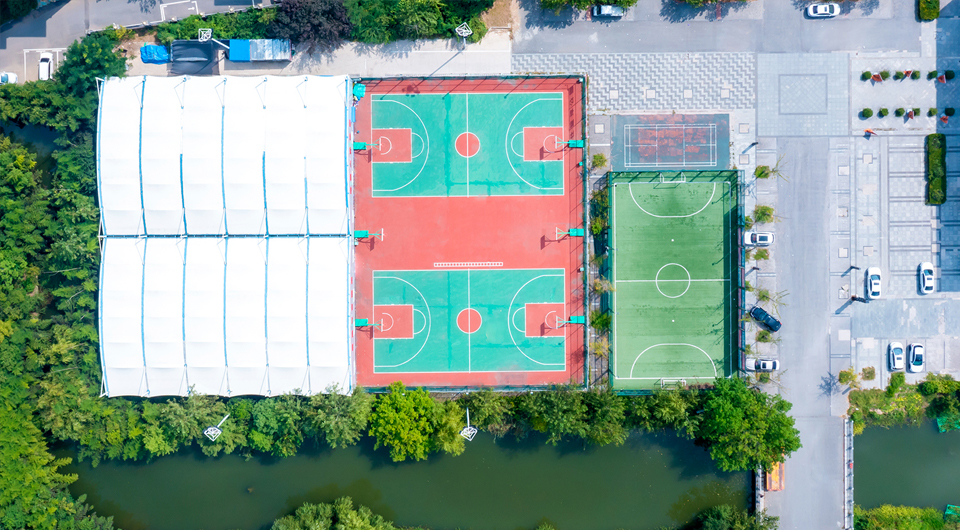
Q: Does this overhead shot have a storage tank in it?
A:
No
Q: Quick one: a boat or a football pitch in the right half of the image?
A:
football pitch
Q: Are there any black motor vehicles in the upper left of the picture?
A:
No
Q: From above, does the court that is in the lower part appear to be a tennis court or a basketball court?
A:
basketball court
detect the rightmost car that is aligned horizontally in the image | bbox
[807,2,841,17]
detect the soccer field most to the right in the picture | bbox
[606,170,741,389]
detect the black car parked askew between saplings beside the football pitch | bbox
[752,306,784,334]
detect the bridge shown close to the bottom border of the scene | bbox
[756,419,854,530]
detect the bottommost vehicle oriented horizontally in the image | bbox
[747,358,781,373]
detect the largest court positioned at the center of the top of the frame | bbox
[372,92,564,197]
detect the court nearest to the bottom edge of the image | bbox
[374,267,565,373]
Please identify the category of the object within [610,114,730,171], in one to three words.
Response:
sports court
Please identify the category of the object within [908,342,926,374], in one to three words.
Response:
car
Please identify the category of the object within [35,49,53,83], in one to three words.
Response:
car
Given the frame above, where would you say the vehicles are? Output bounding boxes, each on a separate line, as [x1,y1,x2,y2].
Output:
[908,342,926,374]
[888,342,906,372]
[919,262,937,295]
[0,69,15,84]
[747,358,781,373]
[752,306,784,334]
[35,49,53,83]
[866,267,884,300]
[592,4,625,18]
[807,2,841,17]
